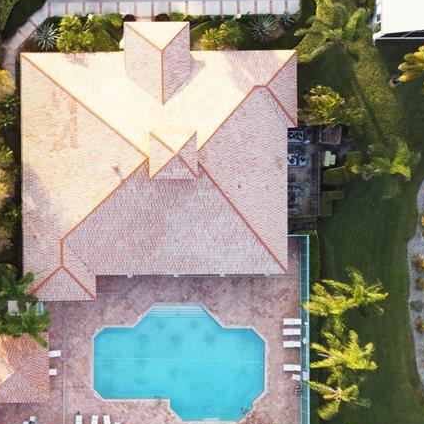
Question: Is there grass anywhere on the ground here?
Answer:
Yes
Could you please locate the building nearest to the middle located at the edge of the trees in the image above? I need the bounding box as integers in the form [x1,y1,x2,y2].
[20,21,298,300]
